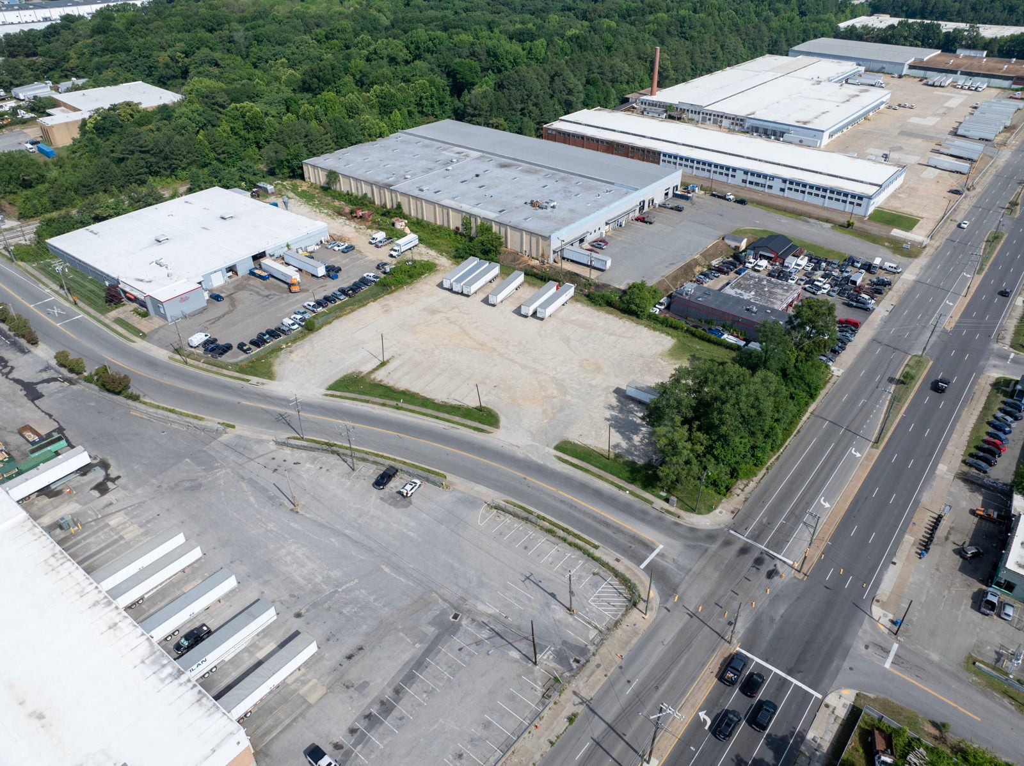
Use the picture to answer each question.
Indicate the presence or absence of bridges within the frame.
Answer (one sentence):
No, there appears to be no bridge in this shot.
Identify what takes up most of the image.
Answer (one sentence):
What you mostly see from above here is paved ground.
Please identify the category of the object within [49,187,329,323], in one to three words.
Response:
building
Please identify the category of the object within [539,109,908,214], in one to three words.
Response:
building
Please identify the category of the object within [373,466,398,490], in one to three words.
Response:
truck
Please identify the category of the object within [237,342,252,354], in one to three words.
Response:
vehicle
